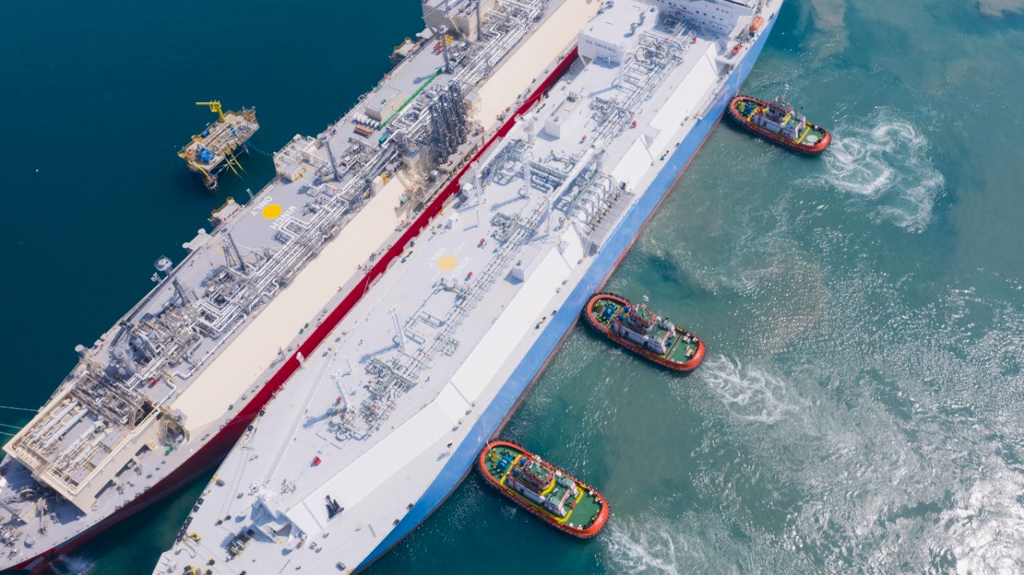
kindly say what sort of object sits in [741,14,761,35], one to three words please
boat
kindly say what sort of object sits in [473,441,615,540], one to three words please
boat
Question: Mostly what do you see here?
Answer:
water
